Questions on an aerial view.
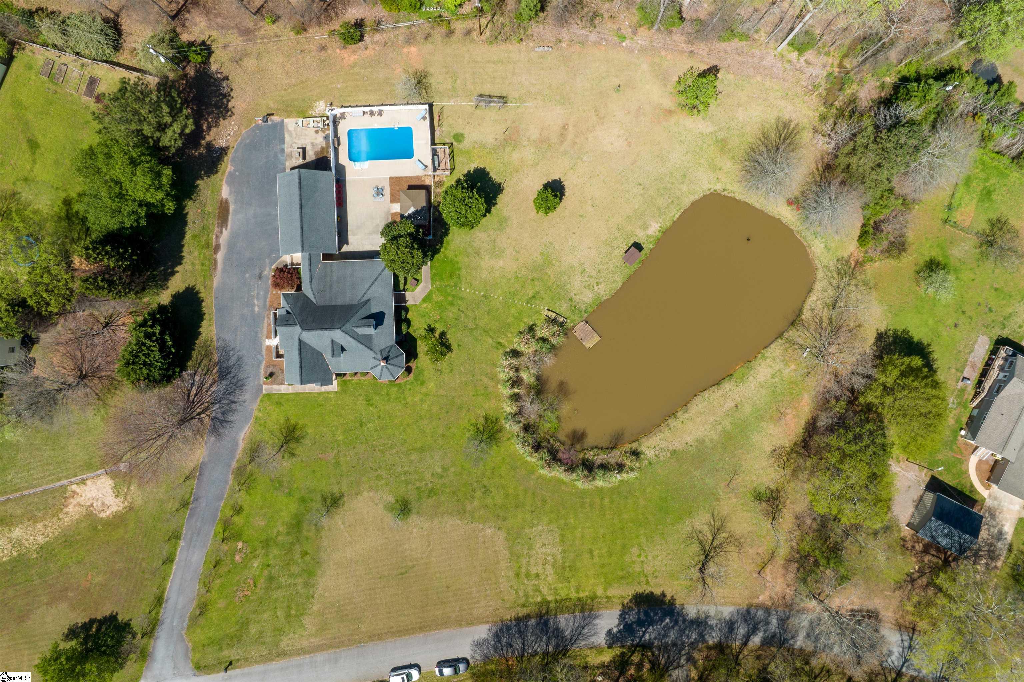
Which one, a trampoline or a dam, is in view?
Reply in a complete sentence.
Visible in the photo is a trampoline.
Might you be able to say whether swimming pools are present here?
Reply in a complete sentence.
Yes, a swimming pool can be made out from above.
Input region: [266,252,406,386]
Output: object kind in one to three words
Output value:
house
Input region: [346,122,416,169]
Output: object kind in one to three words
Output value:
swimming pool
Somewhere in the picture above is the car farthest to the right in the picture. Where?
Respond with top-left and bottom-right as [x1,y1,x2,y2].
[435,662,469,679]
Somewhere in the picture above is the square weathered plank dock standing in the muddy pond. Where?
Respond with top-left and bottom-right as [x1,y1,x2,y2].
[573,321,601,349]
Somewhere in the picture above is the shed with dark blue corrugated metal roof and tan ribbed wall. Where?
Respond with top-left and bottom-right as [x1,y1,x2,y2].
[905,488,984,556]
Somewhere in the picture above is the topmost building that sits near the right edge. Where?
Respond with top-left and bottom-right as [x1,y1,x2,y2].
[959,347,1024,501]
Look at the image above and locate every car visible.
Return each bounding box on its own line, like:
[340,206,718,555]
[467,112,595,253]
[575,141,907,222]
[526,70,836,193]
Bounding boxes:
[435,662,469,679]
[386,668,420,682]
